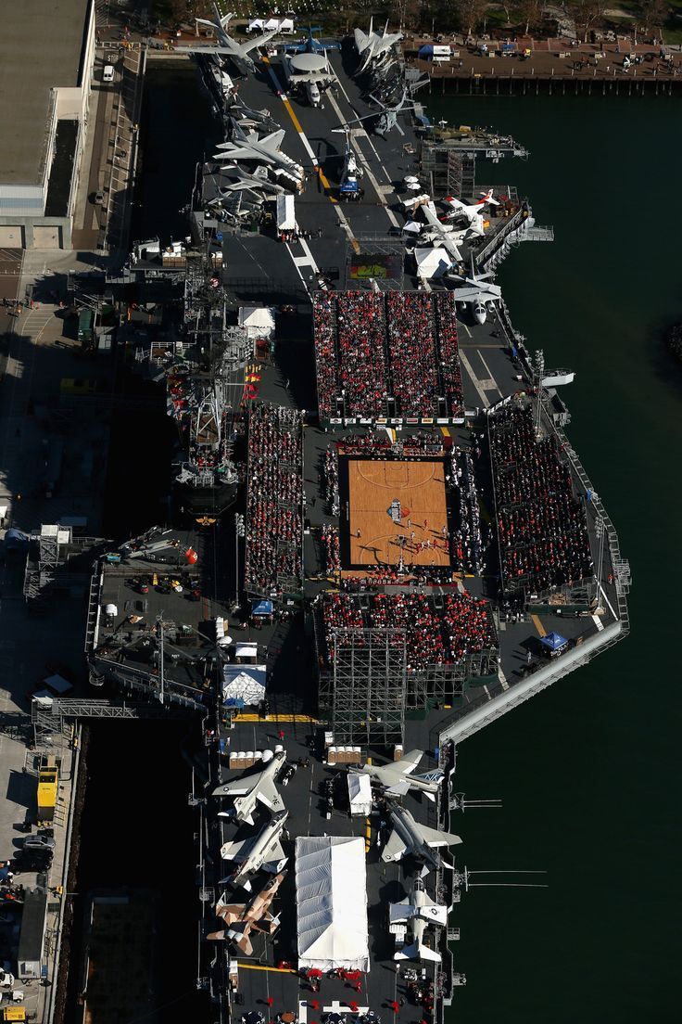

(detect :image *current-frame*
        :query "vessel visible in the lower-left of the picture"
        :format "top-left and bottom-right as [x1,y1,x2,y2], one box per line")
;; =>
[73,897,164,1024]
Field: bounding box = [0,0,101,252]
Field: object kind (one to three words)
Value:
building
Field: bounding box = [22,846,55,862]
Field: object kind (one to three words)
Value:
car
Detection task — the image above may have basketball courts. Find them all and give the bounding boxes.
[338,455,463,572]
